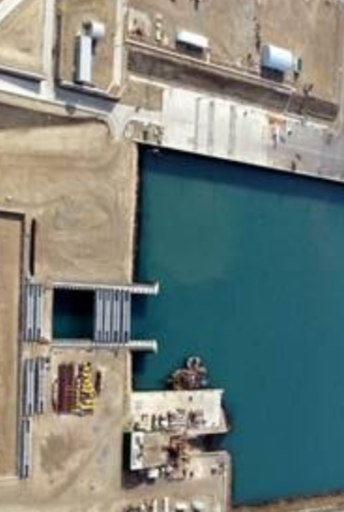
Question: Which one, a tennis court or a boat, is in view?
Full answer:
Visible in the photo is a boat.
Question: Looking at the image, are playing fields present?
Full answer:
No, there's no playing field here.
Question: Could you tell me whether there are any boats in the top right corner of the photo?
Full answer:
No, looking in the top right corner of the photo, there is no boat.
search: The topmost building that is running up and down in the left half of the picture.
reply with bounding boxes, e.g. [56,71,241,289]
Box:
[76,33,95,83]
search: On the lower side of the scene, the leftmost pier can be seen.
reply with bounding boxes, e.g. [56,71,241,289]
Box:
[43,283,159,351]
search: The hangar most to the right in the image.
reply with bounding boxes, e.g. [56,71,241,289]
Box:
[259,44,297,74]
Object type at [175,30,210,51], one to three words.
shed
